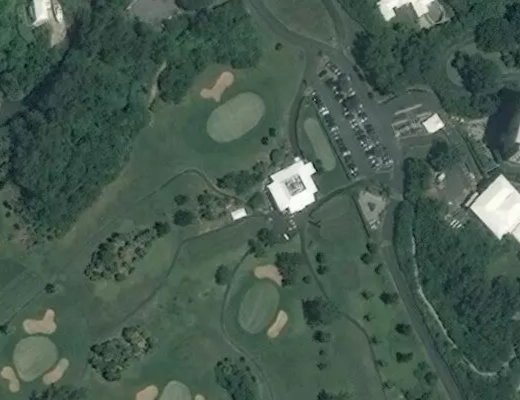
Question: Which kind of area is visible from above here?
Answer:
golf course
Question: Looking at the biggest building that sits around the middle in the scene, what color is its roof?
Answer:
white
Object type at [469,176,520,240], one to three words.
building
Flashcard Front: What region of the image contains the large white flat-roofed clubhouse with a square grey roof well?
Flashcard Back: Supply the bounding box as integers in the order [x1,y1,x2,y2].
[268,156,317,213]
